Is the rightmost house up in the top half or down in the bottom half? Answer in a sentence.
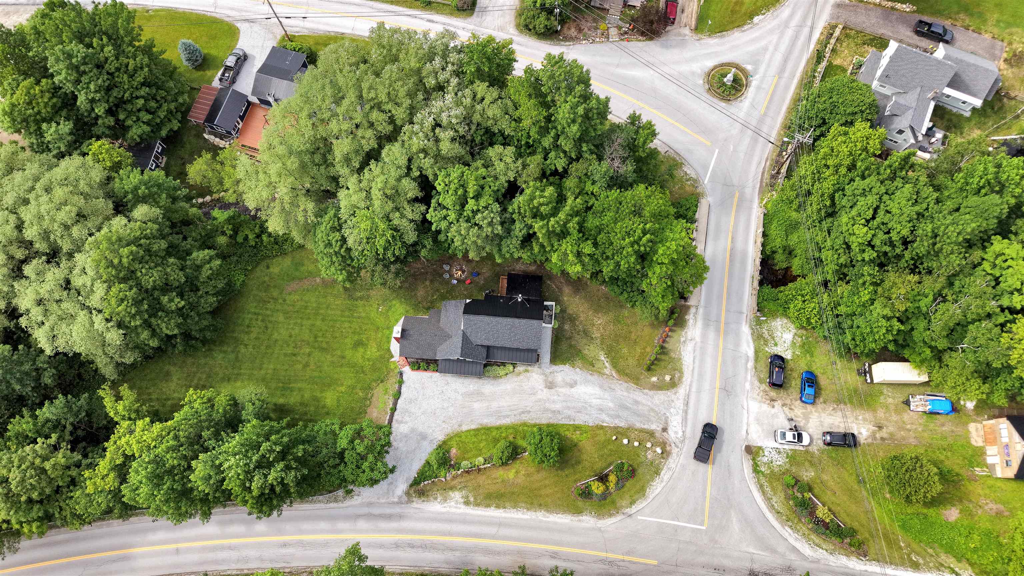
It is in the bottom half that the rightmost house appears.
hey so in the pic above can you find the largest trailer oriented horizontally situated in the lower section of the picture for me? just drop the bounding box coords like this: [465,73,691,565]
[863,362,928,383]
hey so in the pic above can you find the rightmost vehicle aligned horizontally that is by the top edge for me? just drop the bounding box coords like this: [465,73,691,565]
[913,21,952,43]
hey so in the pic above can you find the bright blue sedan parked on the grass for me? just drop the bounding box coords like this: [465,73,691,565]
[798,371,816,405]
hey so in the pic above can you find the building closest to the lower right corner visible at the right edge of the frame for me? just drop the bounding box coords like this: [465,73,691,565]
[982,415,1024,481]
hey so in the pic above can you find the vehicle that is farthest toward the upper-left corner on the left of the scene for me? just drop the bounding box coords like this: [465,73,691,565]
[220,49,245,85]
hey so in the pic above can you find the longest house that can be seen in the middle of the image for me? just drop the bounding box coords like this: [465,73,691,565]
[393,294,555,377]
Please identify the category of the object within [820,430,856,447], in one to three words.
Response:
car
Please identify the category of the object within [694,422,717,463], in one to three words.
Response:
truck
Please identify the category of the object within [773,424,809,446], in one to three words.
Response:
car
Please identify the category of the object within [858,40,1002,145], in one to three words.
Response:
house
